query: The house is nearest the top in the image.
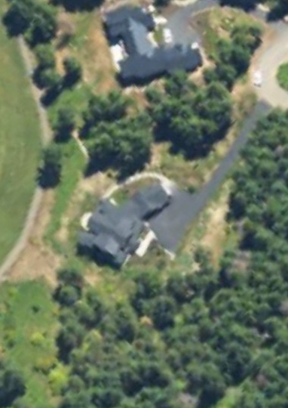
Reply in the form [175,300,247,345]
[105,0,203,83]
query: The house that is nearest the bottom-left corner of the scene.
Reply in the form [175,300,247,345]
[76,185,170,265]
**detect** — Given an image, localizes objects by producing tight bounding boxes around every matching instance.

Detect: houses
[105,0,203,83]
[76,185,170,265]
